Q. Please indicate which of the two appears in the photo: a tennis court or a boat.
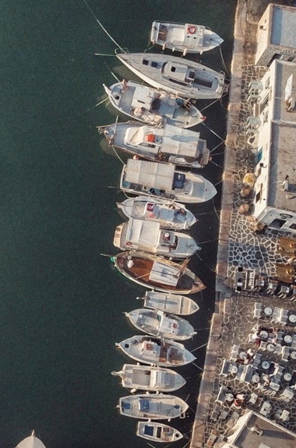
boat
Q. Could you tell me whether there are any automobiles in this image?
No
